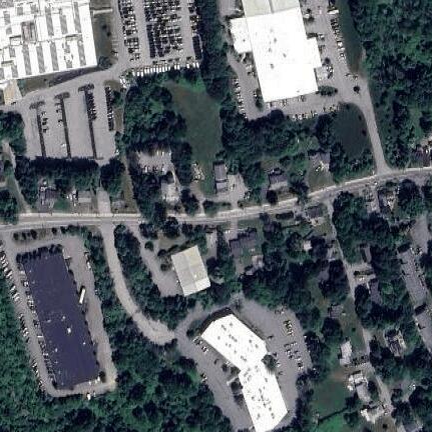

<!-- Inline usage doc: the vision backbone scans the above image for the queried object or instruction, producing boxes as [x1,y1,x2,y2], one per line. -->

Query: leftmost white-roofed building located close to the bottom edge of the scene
[201,314,288,432]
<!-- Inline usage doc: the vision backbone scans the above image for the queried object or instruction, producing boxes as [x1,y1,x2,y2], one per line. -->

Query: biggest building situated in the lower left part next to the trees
[20,248,100,391]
